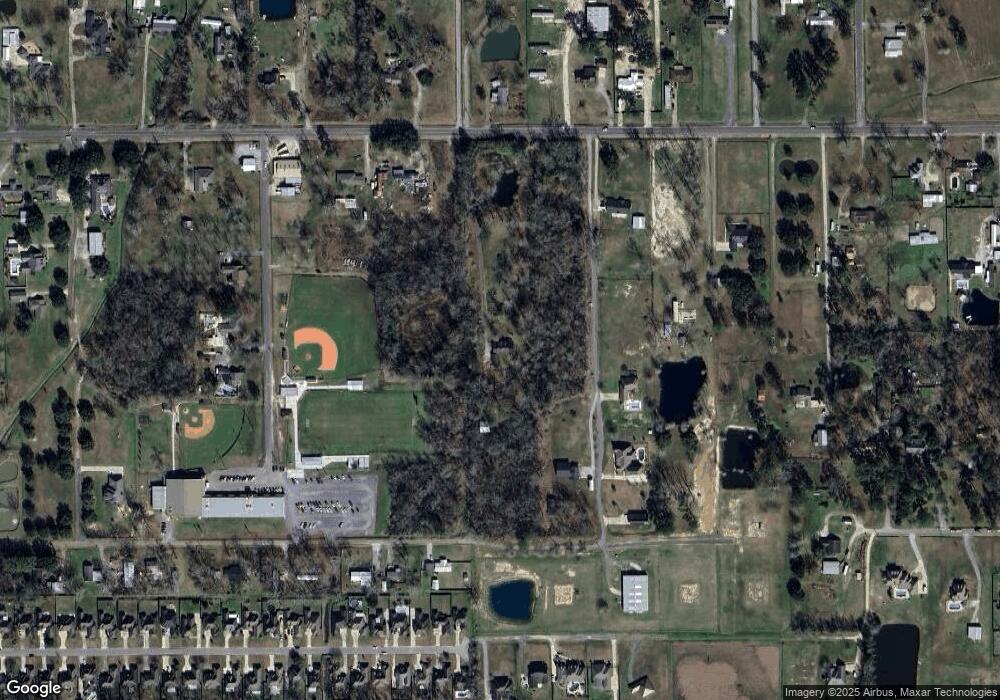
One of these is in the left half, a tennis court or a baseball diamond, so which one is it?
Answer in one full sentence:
You can see a baseball diamond in the left half.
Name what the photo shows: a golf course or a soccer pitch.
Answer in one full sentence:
The one in the frame is a soccer pitch.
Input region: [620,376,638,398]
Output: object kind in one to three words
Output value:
house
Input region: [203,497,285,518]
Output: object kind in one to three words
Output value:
building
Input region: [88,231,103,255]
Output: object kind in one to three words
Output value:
barn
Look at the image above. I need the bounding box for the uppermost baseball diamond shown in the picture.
[286,275,381,381]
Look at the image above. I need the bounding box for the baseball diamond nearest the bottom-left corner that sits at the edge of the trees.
[181,404,246,468]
